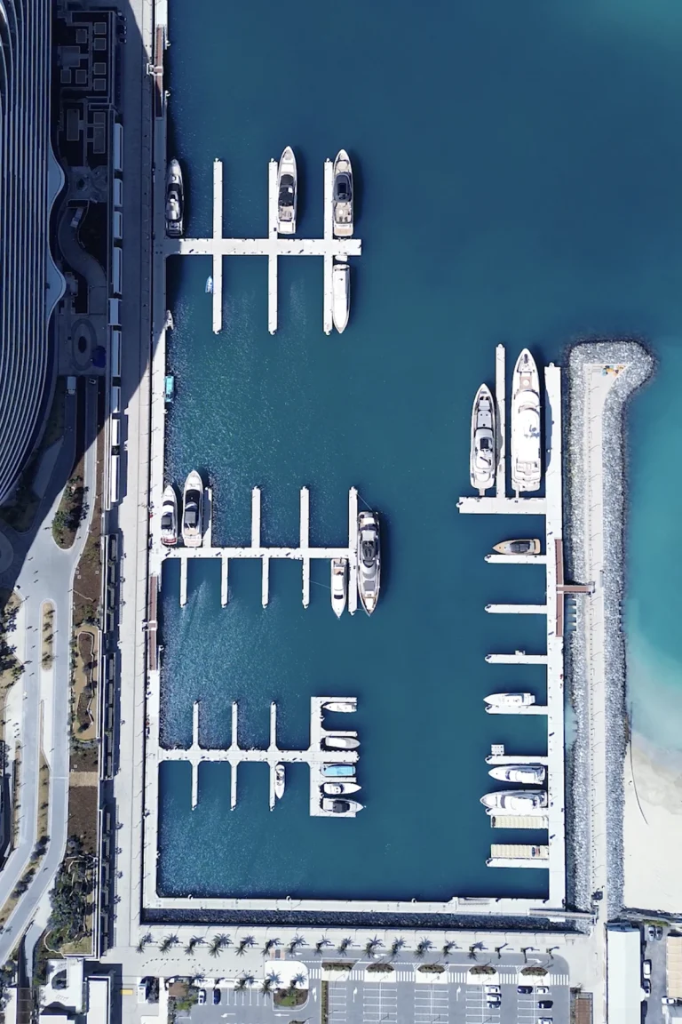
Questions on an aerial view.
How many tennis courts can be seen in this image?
0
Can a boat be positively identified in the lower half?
Yes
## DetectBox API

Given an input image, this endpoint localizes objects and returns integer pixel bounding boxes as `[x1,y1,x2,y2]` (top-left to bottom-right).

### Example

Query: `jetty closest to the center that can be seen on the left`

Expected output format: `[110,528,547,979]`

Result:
[161,485,358,616]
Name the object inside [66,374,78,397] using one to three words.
vehicle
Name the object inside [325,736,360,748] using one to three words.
boat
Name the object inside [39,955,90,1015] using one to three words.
building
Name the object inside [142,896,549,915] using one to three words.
pier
